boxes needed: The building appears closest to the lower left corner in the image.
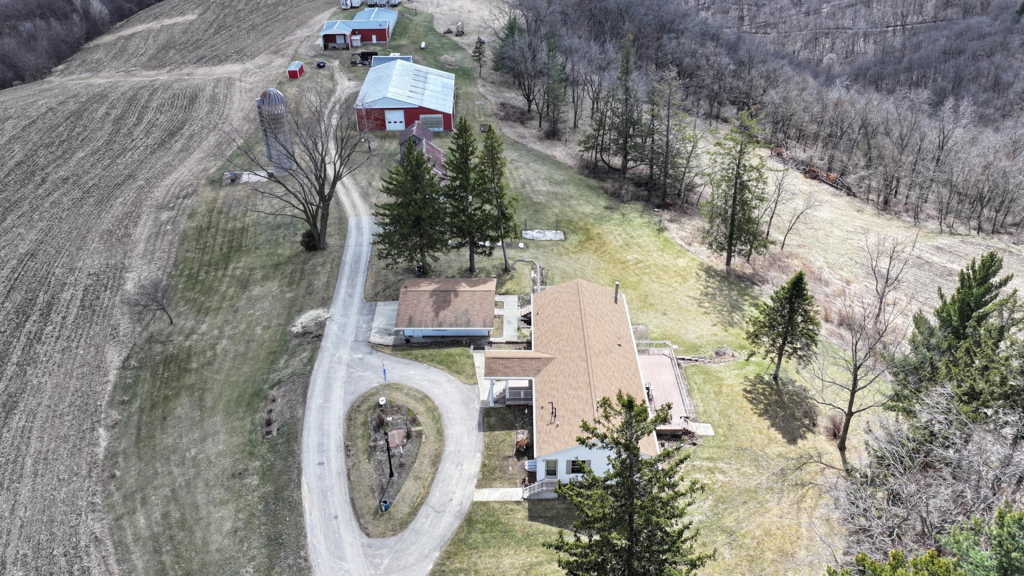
[394,277,496,337]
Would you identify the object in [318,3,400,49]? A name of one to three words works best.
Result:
building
